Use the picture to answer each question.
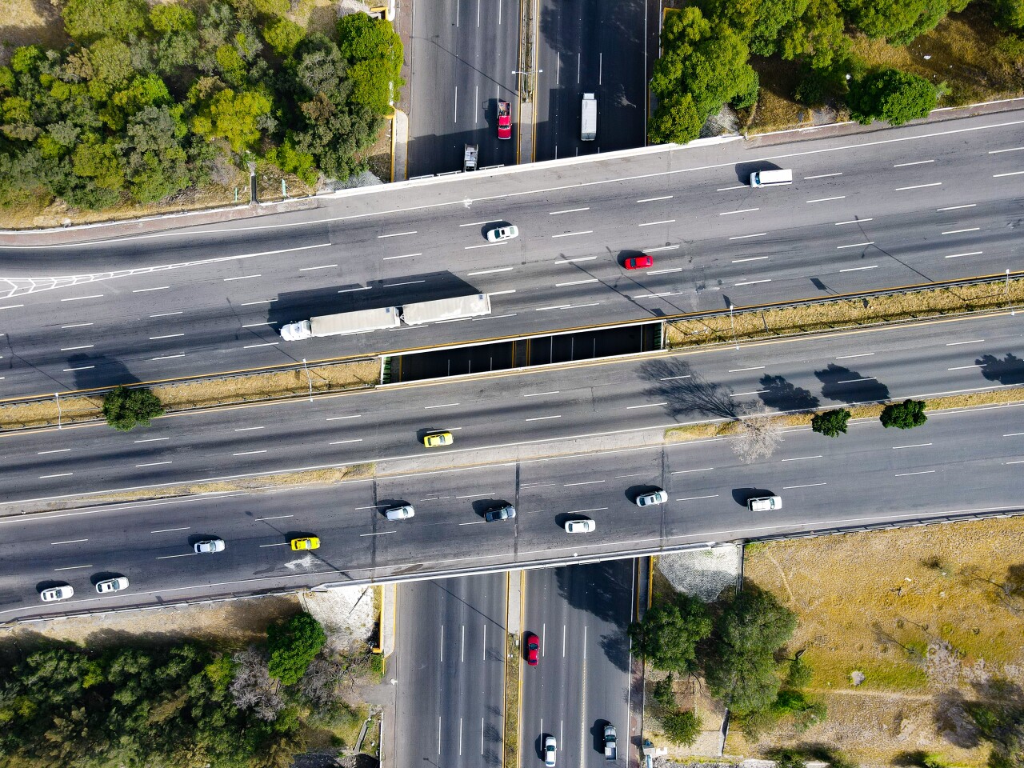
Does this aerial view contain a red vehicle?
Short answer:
Yes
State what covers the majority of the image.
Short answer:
paved ground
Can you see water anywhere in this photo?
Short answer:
No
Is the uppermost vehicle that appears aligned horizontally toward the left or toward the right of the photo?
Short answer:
right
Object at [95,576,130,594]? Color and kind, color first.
white car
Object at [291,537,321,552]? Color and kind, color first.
yellow car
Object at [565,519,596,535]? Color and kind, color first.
white car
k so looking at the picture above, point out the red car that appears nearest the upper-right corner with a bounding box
[624,255,654,270]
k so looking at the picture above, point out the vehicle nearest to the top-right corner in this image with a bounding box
[750,167,795,189]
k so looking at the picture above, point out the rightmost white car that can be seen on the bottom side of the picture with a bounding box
[747,496,783,512]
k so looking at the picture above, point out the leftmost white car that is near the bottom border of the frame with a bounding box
[543,735,557,767]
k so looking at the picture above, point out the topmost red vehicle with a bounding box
[496,102,512,139]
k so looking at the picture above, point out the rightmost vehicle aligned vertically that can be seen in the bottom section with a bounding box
[603,723,619,762]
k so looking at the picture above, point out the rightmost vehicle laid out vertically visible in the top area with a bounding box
[581,94,599,143]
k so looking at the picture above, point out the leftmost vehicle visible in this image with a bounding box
[40,584,75,601]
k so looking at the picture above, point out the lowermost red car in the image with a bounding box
[526,634,540,665]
